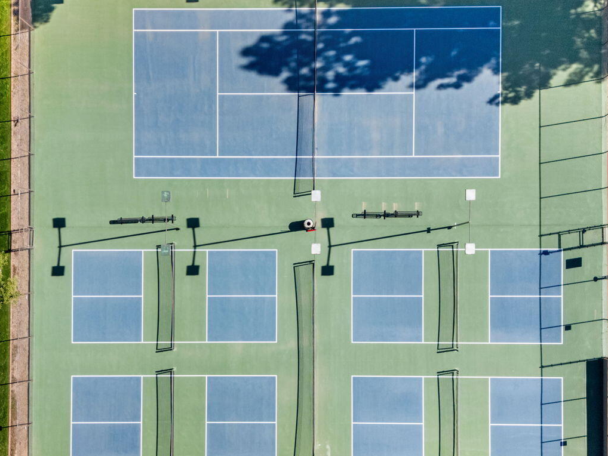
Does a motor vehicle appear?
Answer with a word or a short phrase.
No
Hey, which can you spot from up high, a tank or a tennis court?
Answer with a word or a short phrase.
tennis court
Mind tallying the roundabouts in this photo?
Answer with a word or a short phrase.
none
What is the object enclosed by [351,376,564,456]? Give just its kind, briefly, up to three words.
sports court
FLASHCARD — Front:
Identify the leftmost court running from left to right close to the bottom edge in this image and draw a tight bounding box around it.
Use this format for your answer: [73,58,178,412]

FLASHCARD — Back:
[70,375,277,456]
